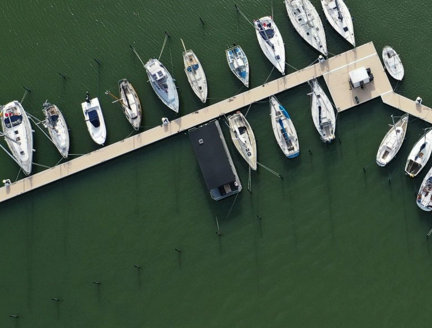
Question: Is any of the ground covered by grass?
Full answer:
No, there is no grass in the image.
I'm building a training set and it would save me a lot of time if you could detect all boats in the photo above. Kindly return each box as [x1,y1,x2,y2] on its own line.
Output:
[184,116,243,234]
[132,33,180,117]
[0,90,46,181]
[25,97,86,160]
[180,37,213,108]
[104,78,152,132]
[417,170,432,212]
[319,0,357,51]
[309,80,337,145]
[377,112,418,167]
[407,128,432,178]
[384,45,403,83]
[224,106,281,190]
[81,96,109,149]
[235,6,295,84]
[261,89,300,160]
[283,0,331,63]
[225,44,252,98]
